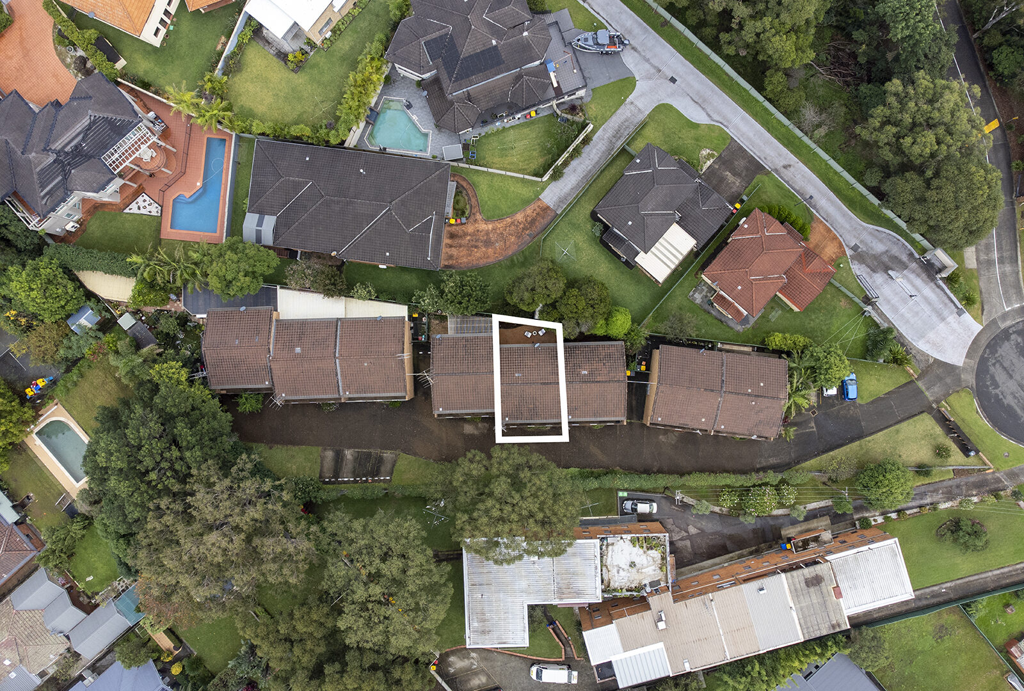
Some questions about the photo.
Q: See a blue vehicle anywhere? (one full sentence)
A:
Yes, the photo shows a blue vehicle.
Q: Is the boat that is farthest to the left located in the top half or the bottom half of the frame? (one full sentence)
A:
The top half of the photo is where the boat that is farthest to the left is.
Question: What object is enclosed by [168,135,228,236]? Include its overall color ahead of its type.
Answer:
blue swimming pool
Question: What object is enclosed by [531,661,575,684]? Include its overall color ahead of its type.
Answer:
white vehicle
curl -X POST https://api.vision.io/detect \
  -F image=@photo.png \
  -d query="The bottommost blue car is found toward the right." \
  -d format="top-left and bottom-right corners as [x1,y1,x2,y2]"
[839,372,858,402]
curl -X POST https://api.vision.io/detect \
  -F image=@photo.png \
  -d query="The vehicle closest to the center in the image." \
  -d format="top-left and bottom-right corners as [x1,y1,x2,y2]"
[621,499,657,514]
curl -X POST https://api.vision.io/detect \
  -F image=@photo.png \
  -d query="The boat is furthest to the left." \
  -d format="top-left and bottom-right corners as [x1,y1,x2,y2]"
[573,32,629,53]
